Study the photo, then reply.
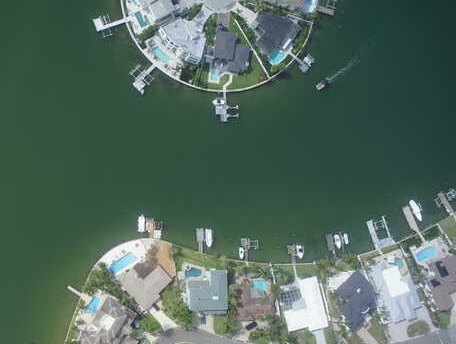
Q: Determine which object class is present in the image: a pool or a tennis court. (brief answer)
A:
pool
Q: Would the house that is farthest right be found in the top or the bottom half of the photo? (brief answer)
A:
bottom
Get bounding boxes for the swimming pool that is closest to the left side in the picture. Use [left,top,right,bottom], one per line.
[84,297,102,315]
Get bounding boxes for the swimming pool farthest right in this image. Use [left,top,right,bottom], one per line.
[415,245,437,261]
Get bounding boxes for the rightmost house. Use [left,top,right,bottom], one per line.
[426,255,456,311]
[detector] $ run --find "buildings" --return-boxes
[333,272,376,331]
[260,0,306,12]
[255,12,301,58]
[215,32,250,73]
[426,255,456,311]
[368,263,420,322]
[189,270,227,312]
[158,18,206,65]
[115,263,173,310]
[77,296,140,344]
[144,0,176,22]
[282,276,328,331]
